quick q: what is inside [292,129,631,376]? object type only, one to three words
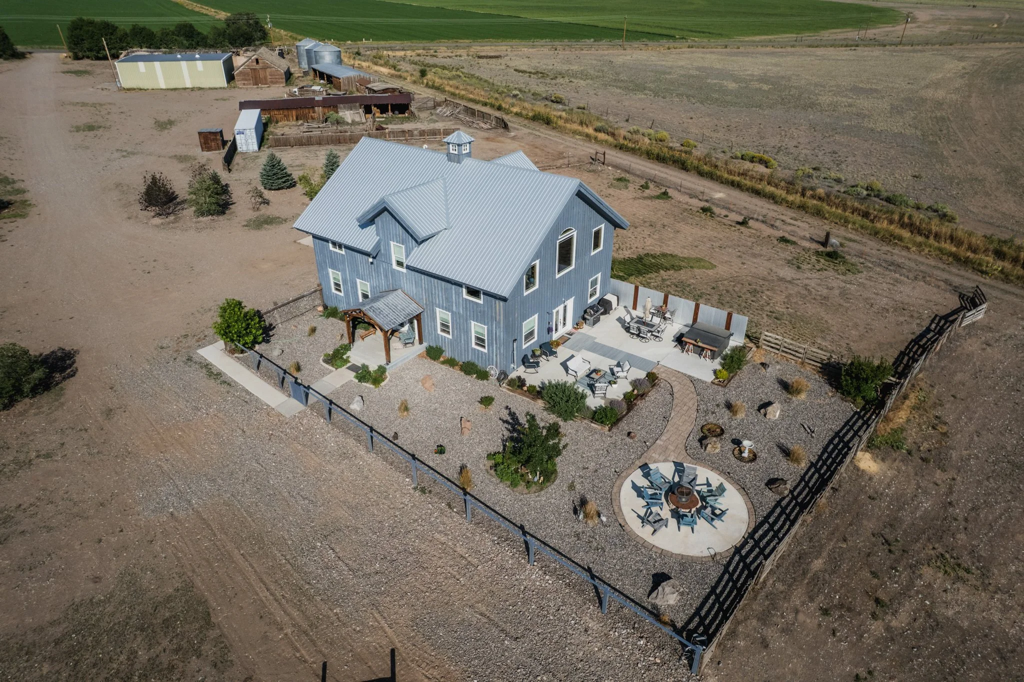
house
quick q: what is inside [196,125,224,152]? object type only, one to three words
shed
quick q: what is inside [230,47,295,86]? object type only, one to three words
barn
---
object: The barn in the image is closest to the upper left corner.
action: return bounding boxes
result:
[114,52,237,87]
